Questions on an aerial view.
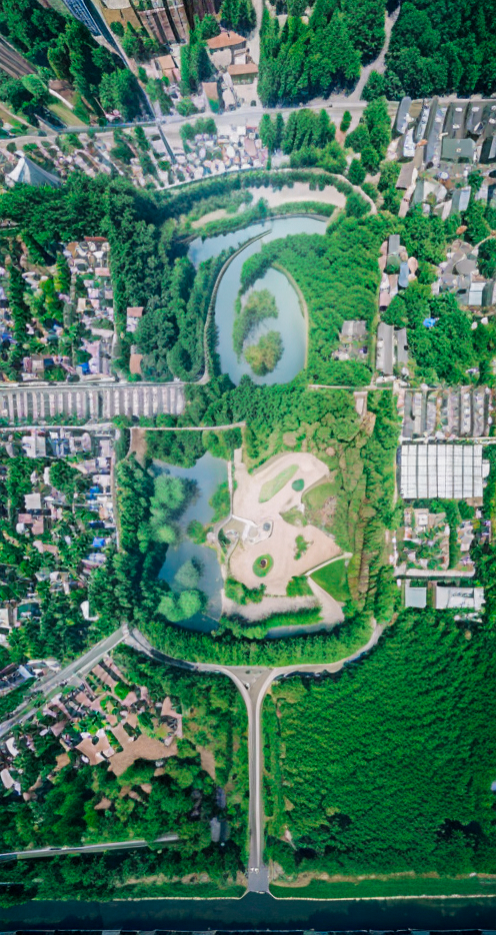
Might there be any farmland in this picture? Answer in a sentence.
No, the scene doesn't show any farmland.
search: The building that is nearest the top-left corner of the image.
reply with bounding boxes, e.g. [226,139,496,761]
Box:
[62,0,106,47]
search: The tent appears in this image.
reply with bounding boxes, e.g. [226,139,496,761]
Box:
[4,150,62,190]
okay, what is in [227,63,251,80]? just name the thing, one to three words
house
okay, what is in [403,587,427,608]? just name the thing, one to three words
shed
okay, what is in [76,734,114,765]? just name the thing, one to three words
house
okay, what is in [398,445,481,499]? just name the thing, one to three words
greenhouse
